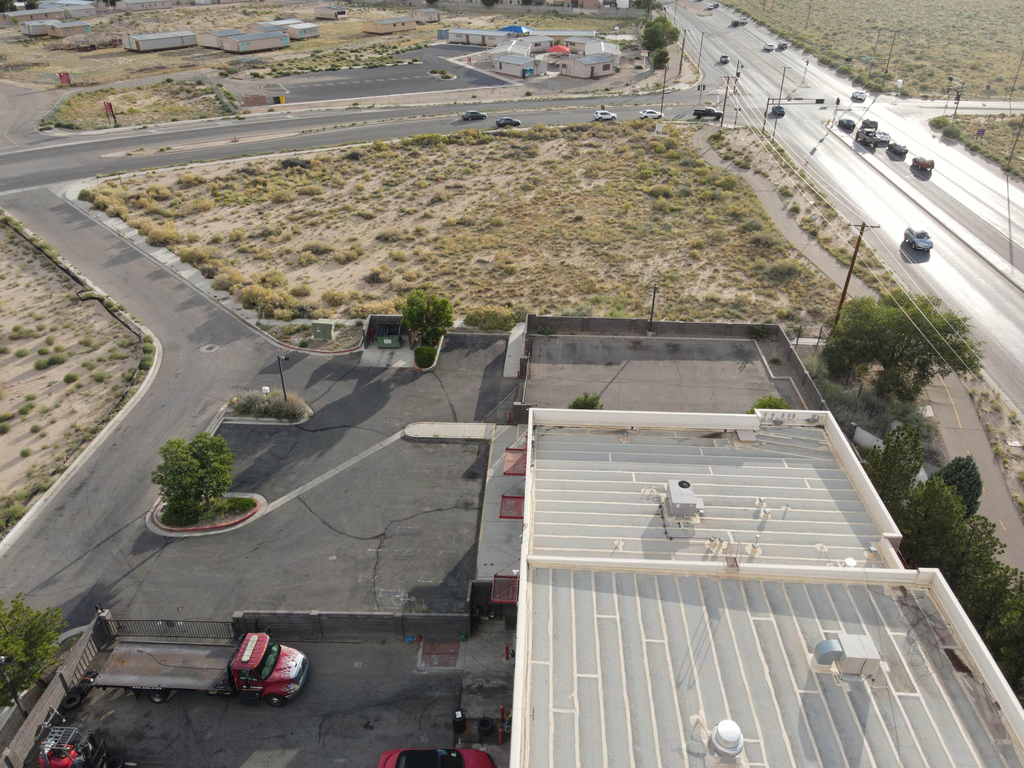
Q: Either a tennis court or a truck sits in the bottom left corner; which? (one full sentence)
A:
Visible in the bottom left corner is a truck.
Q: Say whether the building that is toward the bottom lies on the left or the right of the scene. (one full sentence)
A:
The building that is toward the bottom appears in the right half of the scene.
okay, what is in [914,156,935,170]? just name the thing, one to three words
car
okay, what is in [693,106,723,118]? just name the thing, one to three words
vehicle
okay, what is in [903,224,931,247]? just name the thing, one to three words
car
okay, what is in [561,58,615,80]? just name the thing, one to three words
building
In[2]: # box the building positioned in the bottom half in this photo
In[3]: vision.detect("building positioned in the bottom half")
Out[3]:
[492,409,1024,768]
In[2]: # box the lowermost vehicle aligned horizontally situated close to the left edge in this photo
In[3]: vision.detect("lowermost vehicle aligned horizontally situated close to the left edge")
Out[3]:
[34,726,125,768]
